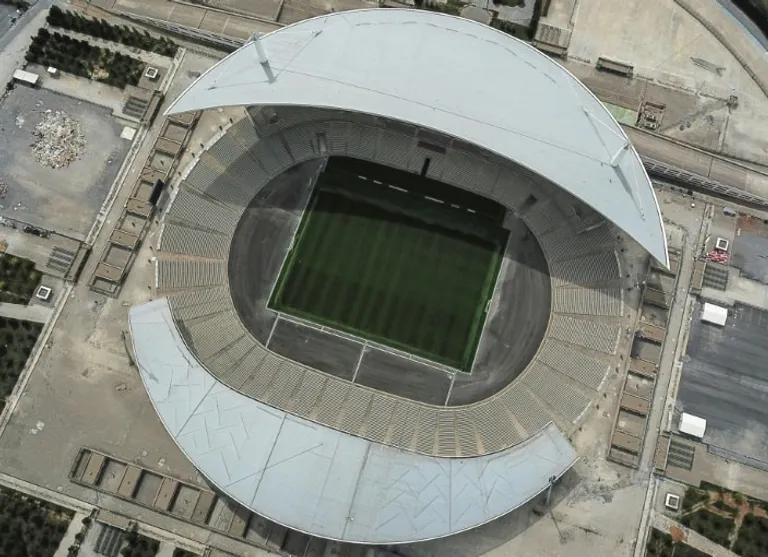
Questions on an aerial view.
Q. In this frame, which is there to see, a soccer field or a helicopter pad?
soccer field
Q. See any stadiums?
Yes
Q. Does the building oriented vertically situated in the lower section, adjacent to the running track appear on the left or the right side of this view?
right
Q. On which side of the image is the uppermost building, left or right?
right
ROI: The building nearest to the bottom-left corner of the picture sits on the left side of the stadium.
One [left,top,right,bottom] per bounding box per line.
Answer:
[90,508,131,532]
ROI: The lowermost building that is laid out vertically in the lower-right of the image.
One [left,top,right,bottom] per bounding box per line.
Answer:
[653,436,675,472]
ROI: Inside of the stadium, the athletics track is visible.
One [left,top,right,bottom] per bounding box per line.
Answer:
[228,157,550,405]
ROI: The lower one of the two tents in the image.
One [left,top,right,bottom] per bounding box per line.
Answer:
[678,411,709,438]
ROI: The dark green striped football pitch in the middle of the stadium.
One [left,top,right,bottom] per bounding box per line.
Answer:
[268,157,510,373]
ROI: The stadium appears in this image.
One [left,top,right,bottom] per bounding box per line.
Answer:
[130,8,668,541]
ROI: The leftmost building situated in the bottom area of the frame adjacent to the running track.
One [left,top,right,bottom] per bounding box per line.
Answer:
[68,448,395,557]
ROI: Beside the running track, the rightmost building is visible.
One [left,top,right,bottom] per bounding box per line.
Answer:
[606,216,688,467]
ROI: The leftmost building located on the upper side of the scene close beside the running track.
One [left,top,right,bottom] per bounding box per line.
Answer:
[87,76,201,298]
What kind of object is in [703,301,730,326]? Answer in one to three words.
tent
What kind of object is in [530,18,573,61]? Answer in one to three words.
building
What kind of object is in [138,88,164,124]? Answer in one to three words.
building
